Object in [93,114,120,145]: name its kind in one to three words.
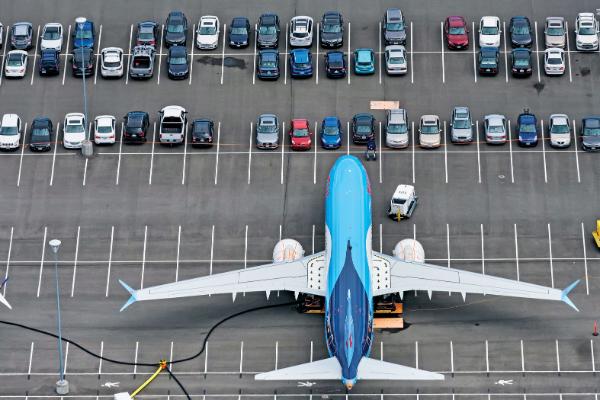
car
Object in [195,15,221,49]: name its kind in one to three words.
car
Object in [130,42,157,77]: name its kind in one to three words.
truck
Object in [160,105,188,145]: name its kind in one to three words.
truck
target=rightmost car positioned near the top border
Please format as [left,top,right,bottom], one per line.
[574,12,600,49]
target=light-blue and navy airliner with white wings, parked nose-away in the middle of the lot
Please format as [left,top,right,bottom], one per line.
[119,155,579,392]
